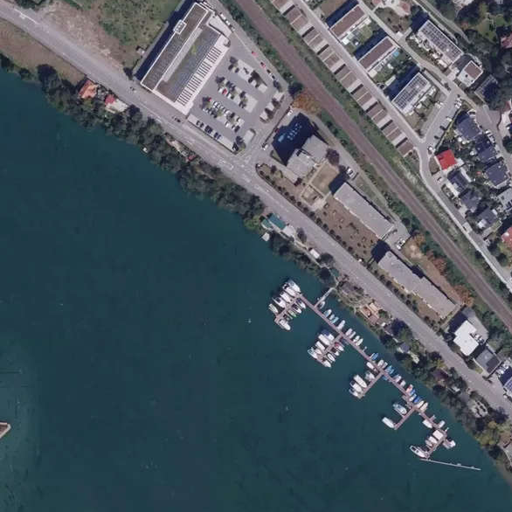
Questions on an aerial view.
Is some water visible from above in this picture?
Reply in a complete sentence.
Yes, water can be seen from above here.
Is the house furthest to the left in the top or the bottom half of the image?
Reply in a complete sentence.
The top half of the photo is where the house furthest to the left is.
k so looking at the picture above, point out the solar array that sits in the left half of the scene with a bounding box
[167,31,220,98]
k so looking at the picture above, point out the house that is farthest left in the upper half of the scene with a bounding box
[79,78,100,100]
